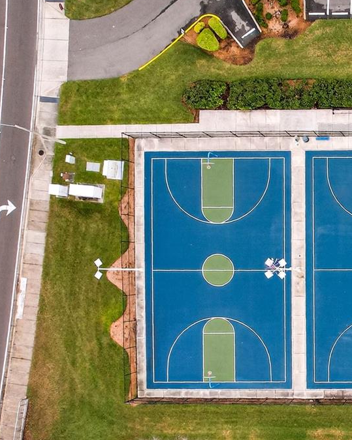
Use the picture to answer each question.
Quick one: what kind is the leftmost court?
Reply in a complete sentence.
The leftmost court is a basketball court.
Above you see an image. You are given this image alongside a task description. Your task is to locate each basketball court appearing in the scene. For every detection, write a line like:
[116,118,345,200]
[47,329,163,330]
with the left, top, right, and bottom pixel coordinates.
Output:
[144,151,293,390]
[305,150,352,389]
